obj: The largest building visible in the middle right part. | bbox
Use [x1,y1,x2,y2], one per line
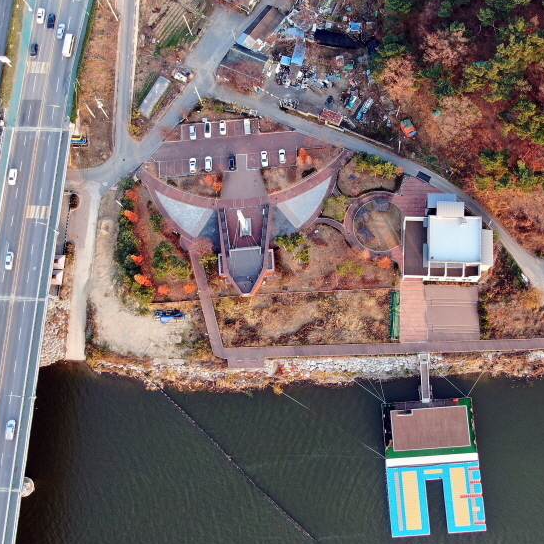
[400,194,493,282]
